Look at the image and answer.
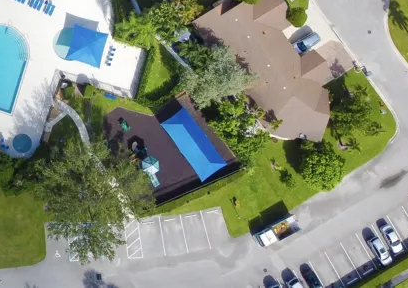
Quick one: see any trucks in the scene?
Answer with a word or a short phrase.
Yes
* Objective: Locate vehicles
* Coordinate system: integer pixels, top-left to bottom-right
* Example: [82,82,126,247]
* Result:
[281,267,305,288]
[253,218,305,252]
[293,31,323,55]
[379,221,406,254]
[368,232,395,266]
[300,260,325,288]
